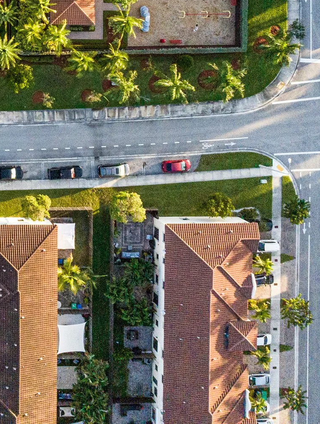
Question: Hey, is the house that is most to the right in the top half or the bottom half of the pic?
bottom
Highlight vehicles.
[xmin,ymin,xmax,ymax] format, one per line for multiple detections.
[258,332,273,347]
[255,273,278,287]
[255,239,282,253]
[250,398,275,413]
[96,162,129,178]
[0,165,23,181]
[249,372,272,388]
[47,165,82,180]
[159,159,191,173]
